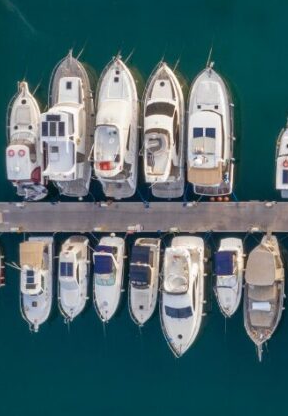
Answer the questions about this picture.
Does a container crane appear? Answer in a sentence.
No, no container crane can be seen from above.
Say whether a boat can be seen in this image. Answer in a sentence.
Yes, a boat appears in the view.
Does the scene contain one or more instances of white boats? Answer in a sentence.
Yes, this view includes a white boat.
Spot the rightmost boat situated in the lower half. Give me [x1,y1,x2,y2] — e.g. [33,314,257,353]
[242,226,288,359]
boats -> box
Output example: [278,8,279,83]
[90,51,146,204]
[41,49,99,204]
[159,229,212,359]
[140,55,190,205]
[184,49,237,205]
[242,226,288,359]
[127,229,165,330]
[13,187,45,200]
[89,230,130,331]
[4,74,44,203]
[212,230,248,323]
[4,231,58,337]
[273,123,288,202]
[54,231,94,326]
